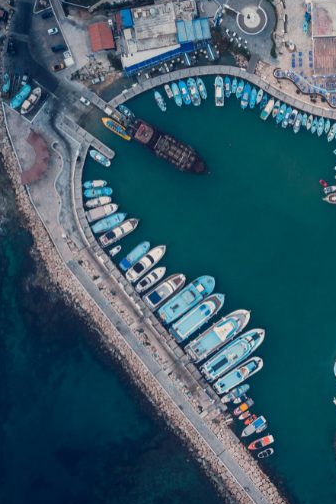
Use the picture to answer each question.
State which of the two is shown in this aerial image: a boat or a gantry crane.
boat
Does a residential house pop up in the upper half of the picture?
Yes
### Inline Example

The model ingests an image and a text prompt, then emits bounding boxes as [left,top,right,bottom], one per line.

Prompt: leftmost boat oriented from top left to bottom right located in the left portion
[86,151,111,167]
